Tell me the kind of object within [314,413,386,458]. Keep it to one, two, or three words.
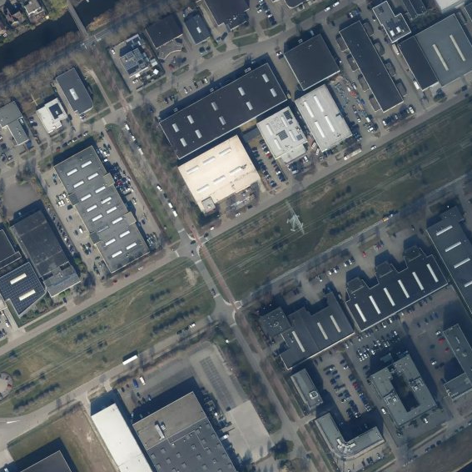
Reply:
building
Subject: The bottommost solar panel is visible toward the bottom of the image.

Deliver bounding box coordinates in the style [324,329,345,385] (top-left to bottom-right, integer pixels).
[0,265,44,314]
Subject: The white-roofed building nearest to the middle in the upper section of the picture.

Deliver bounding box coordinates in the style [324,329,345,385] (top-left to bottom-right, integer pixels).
[177,135,260,214]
